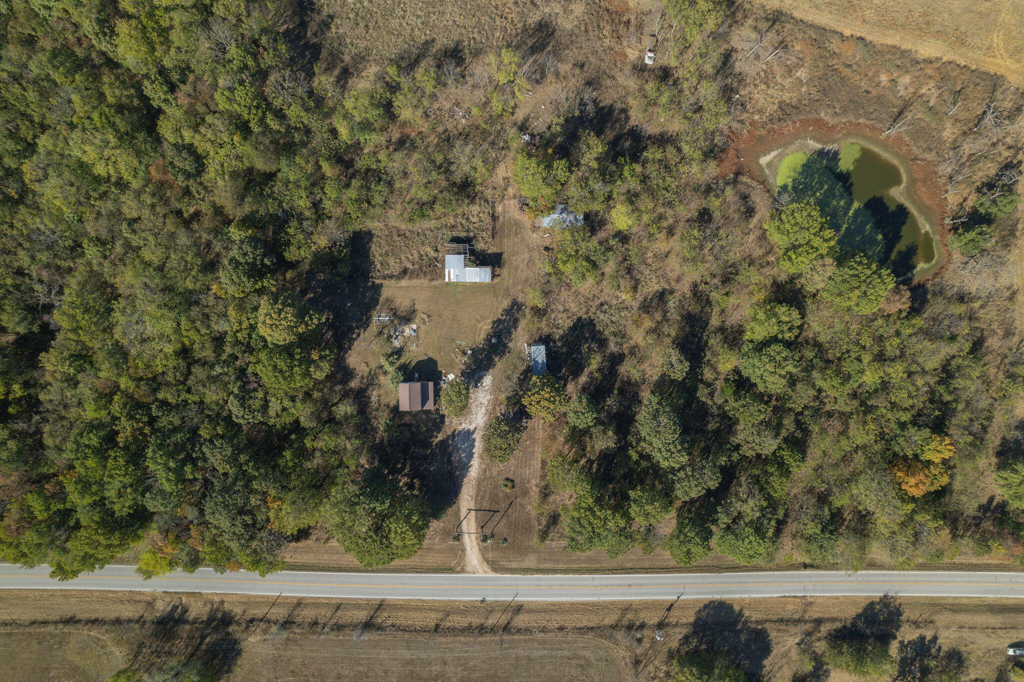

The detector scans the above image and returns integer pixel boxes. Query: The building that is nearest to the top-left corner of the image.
[445,242,491,282]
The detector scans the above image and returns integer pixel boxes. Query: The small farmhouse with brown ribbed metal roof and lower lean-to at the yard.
[399,382,434,411]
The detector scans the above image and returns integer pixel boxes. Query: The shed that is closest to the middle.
[531,341,548,380]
